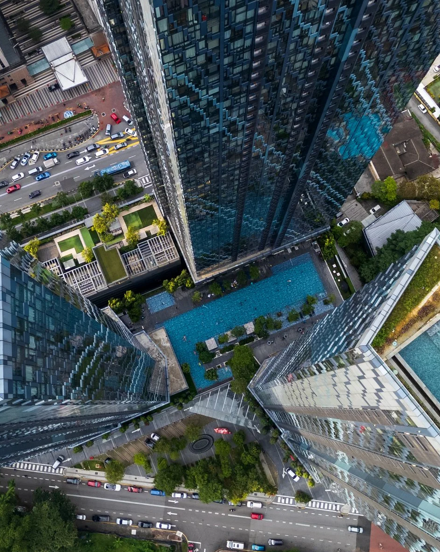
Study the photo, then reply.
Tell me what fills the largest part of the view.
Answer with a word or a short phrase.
buildings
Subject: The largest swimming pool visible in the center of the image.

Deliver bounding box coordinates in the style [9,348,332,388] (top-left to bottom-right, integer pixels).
[164,253,327,388]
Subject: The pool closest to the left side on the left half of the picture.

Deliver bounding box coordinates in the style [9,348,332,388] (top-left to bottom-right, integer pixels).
[147,293,175,313]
